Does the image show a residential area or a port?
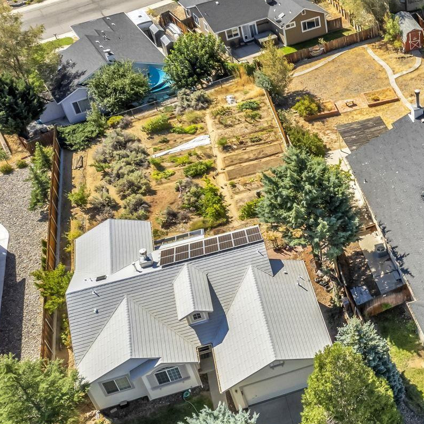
residential area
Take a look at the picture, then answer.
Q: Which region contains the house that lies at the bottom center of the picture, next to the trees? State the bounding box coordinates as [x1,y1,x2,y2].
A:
[64,217,333,413]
